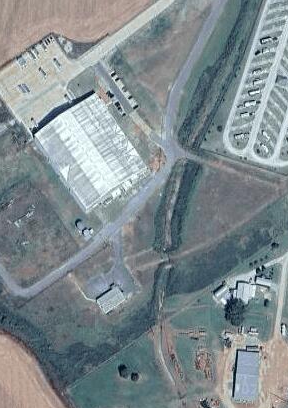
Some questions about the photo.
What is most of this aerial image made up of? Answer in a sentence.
Most of the picture is covered by grass.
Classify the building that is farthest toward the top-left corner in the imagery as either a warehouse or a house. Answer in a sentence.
Specifically, the building that is farthest toward the top-left corner is a warehouse.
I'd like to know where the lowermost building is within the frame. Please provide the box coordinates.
[233,347,260,404]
